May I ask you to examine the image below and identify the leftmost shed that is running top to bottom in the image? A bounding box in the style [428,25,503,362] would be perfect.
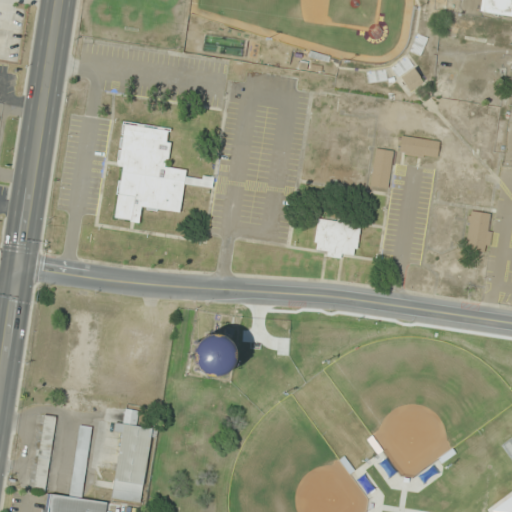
[36,415,56,490]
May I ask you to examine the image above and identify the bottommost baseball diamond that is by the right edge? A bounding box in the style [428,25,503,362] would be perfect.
[324,337,512,478]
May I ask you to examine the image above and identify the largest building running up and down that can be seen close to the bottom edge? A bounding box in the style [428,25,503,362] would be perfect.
[112,410,152,504]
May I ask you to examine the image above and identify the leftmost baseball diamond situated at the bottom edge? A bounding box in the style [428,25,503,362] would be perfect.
[229,394,368,512]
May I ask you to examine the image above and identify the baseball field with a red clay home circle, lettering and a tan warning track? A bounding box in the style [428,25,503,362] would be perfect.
[190,0,415,62]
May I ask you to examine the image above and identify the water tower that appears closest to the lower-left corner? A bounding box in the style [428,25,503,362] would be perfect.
[192,328,242,382]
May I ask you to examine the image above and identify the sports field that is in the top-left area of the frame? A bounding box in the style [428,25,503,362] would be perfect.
[90,0,178,30]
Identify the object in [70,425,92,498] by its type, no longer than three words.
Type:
shed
